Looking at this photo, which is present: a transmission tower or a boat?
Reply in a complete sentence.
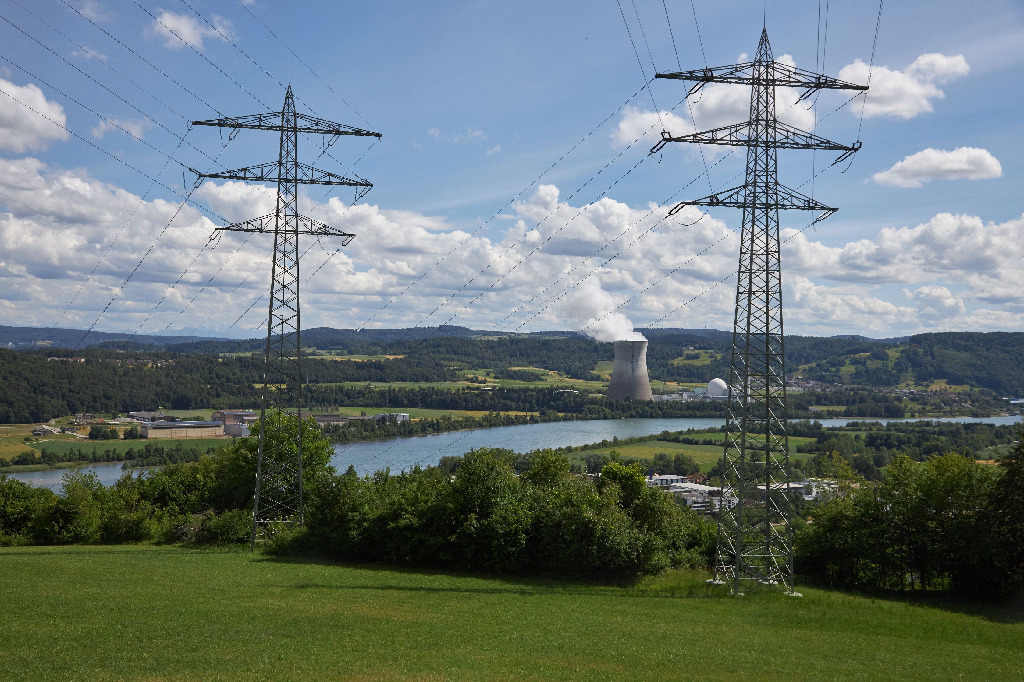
The image shows a transmission tower.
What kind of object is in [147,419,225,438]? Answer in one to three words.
building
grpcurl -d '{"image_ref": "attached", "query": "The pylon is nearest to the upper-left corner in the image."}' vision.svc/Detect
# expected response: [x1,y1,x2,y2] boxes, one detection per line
[173,55,381,545]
